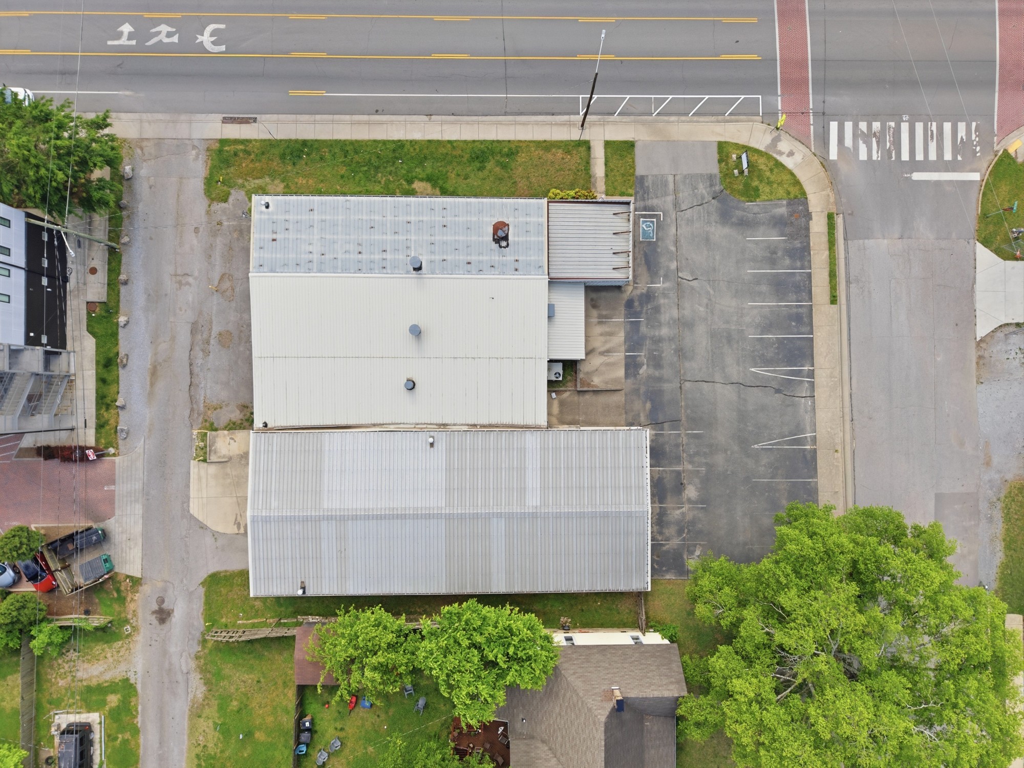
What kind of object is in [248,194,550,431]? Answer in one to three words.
warehouse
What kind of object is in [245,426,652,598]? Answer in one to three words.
warehouse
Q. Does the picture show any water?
No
